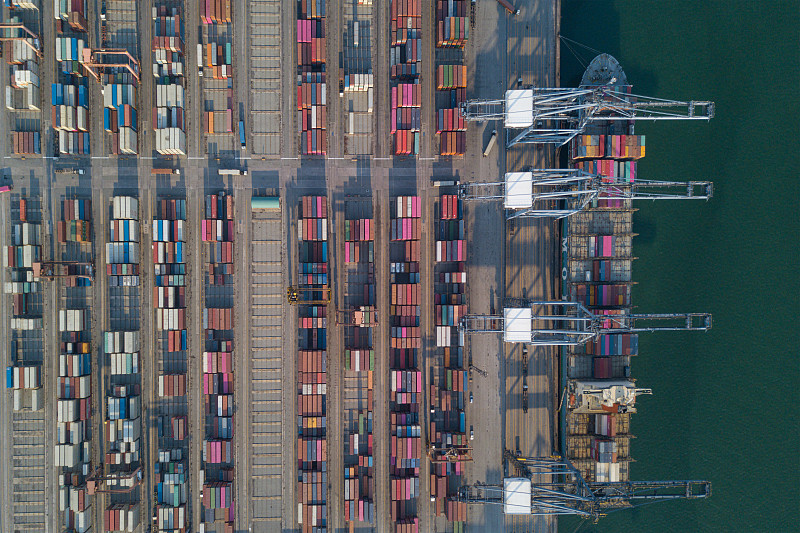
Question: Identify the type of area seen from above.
port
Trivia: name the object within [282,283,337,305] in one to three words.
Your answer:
container crane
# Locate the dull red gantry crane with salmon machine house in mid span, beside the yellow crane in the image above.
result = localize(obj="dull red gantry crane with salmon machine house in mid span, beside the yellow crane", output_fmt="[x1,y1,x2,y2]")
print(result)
[333,304,383,326]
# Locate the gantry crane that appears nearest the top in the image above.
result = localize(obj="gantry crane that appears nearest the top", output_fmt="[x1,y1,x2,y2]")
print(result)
[0,23,48,57]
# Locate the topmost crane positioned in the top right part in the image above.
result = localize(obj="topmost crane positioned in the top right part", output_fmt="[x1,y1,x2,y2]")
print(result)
[460,84,717,162]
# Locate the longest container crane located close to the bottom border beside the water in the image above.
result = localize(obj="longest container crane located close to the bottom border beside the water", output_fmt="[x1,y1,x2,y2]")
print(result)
[460,431,715,527]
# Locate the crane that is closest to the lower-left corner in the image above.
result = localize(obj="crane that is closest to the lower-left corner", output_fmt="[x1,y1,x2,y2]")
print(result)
[81,461,148,493]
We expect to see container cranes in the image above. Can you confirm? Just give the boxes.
[460,166,716,231]
[80,49,146,80]
[0,23,48,57]
[460,84,717,162]
[282,283,337,305]
[81,461,148,493]
[28,259,99,281]
[428,433,478,463]
[333,304,383,326]
[460,431,715,527]
[460,285,716,346]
